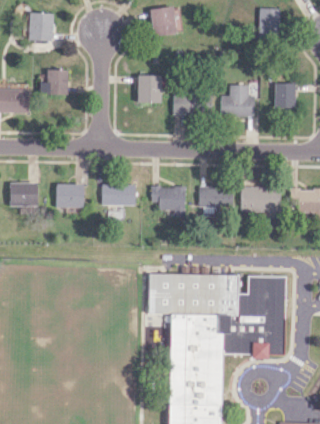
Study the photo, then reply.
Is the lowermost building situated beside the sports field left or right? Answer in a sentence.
The lowermost building situated beside the sports field is on the right side of the image.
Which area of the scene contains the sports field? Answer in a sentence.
You can find the sports field in the bottom left area of the picture.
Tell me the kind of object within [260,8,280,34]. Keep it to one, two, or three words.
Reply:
house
